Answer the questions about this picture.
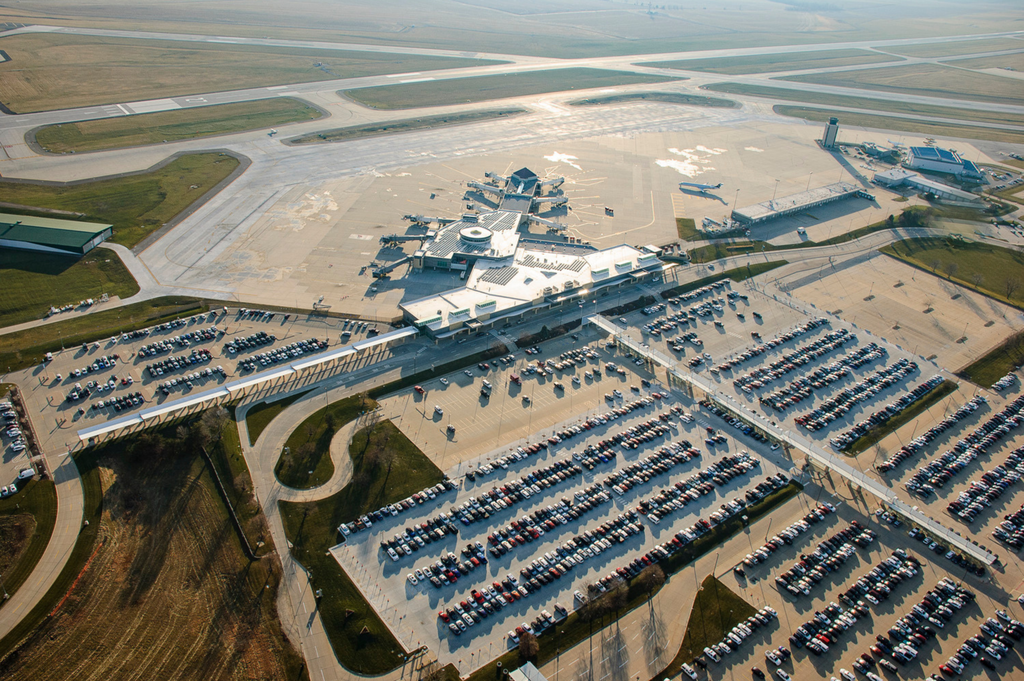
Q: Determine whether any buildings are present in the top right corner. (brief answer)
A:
Yes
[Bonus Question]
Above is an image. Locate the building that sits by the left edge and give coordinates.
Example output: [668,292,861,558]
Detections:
[0,213,115,256]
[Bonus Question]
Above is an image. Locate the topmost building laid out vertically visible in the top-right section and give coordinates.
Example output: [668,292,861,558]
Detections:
[822,110,842,146]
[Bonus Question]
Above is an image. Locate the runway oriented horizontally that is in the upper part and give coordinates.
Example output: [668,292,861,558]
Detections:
[0,31,1024,129]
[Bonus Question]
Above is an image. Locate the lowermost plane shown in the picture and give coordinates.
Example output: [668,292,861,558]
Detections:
[677,177,726,190]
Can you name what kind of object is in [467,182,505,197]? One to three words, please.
jet bridge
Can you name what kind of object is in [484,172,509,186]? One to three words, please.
jet bridge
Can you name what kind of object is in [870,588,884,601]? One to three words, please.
vehicle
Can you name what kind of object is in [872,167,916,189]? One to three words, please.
building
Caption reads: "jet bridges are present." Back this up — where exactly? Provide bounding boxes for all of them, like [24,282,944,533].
[409,215,462,228]
[484,172,509,186]
[467,182,505,197]
[537,176,567,189]
[533,196,570,207]
[380,234,427,247]
[372,253,413,278]
[527,212,569,232]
